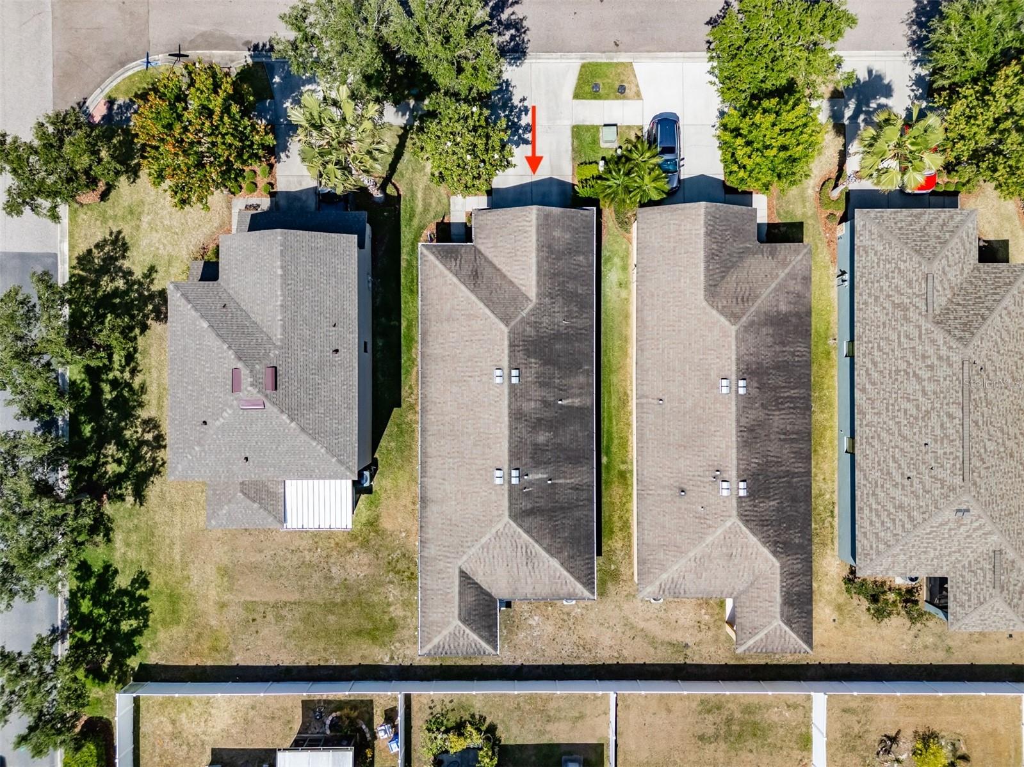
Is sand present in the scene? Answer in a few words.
No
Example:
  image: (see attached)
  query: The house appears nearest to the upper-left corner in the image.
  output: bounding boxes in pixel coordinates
[166,213,371,531]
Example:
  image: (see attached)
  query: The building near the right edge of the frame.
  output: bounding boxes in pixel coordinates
[836,208,1024,633]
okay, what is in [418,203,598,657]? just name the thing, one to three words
house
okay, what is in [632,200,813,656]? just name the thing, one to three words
house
